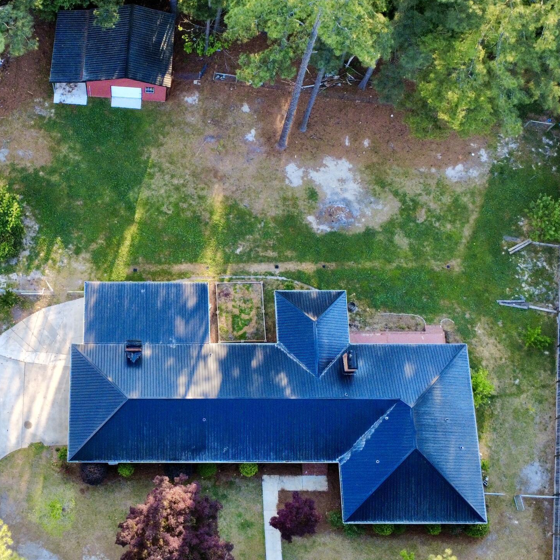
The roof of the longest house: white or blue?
blue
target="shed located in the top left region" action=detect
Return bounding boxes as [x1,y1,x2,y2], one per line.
[49,3,177,101]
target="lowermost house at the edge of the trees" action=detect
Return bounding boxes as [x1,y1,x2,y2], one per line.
[67,281,489,525]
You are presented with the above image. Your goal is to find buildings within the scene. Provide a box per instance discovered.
[67,281,489,525]
[49,3,177,101]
